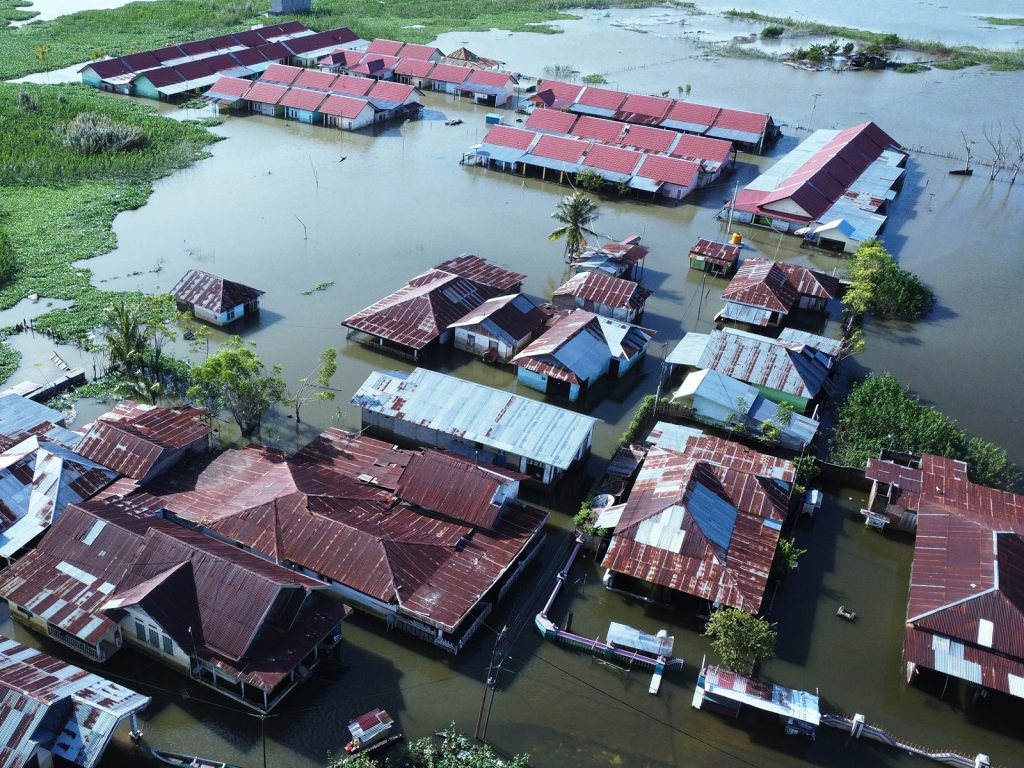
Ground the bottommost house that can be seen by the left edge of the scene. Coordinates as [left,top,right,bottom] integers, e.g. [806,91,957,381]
[0,634,152,768]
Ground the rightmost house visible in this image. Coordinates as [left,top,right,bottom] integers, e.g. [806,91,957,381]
[901,452,1024,705]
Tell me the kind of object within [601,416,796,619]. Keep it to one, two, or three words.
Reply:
house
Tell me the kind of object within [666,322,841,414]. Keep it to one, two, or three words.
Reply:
building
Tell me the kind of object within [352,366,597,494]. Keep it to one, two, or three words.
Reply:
warehouse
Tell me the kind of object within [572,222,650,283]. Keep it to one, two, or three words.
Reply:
shed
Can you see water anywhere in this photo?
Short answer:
Yes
